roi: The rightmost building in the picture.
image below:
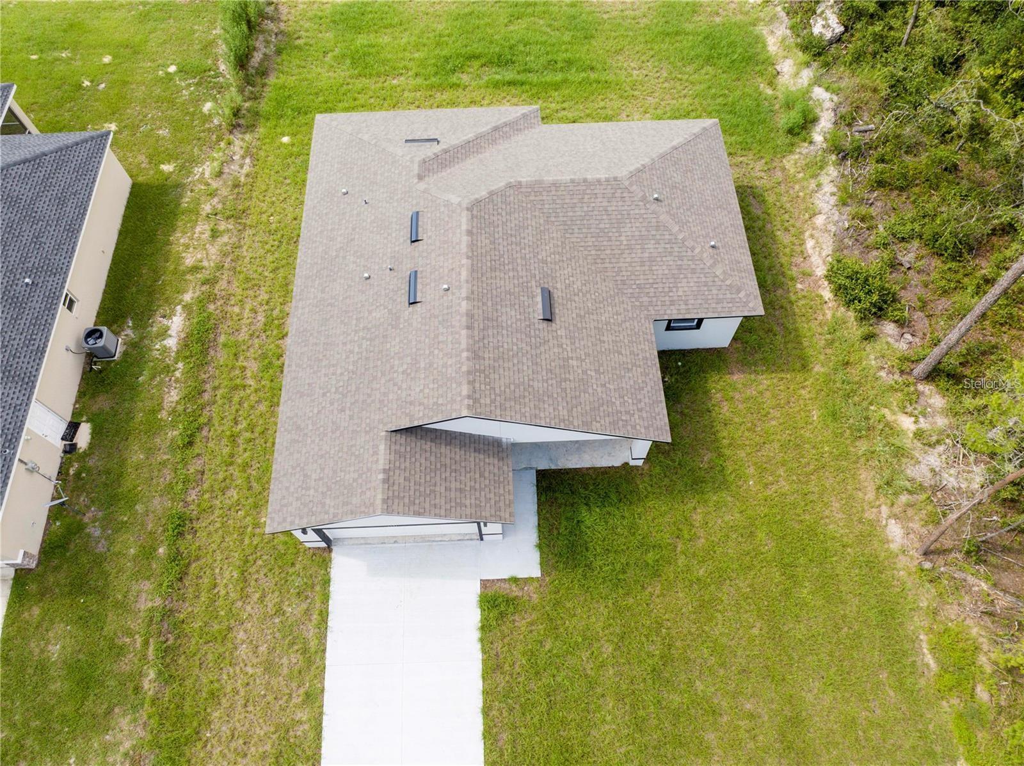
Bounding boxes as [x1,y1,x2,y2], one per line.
[267,105,767,550]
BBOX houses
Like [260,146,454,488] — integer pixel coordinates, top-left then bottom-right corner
[0,83,133,570]
[267,105,767,550]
